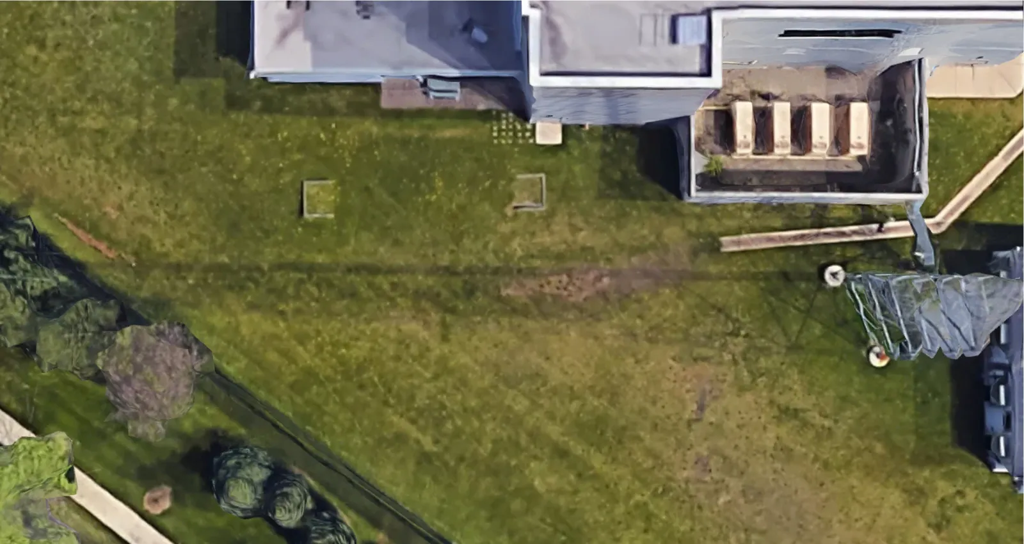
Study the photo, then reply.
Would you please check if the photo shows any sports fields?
No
